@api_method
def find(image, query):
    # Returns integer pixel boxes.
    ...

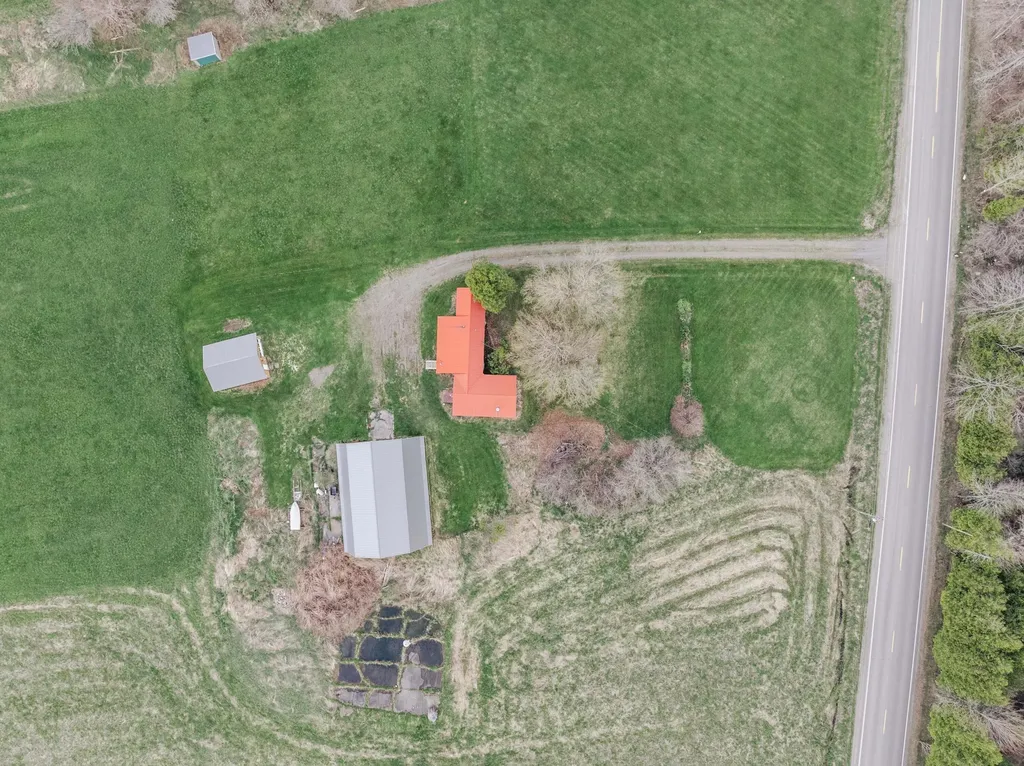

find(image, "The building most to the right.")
[436,287,517,417]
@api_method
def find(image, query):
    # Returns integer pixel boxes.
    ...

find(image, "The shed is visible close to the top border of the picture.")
[187,32,222,67]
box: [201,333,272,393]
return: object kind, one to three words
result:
building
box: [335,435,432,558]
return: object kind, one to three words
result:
barn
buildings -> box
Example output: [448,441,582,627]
[335,435,432,558]
[187,32,222,67]
[436,287,517,417]
[201,333,272,393]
